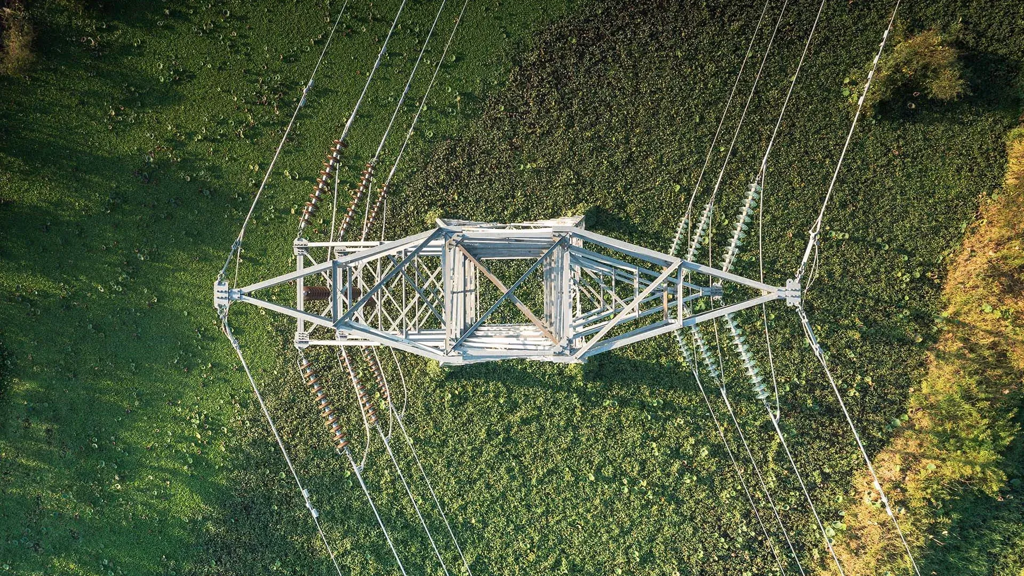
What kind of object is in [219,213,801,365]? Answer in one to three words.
pylon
